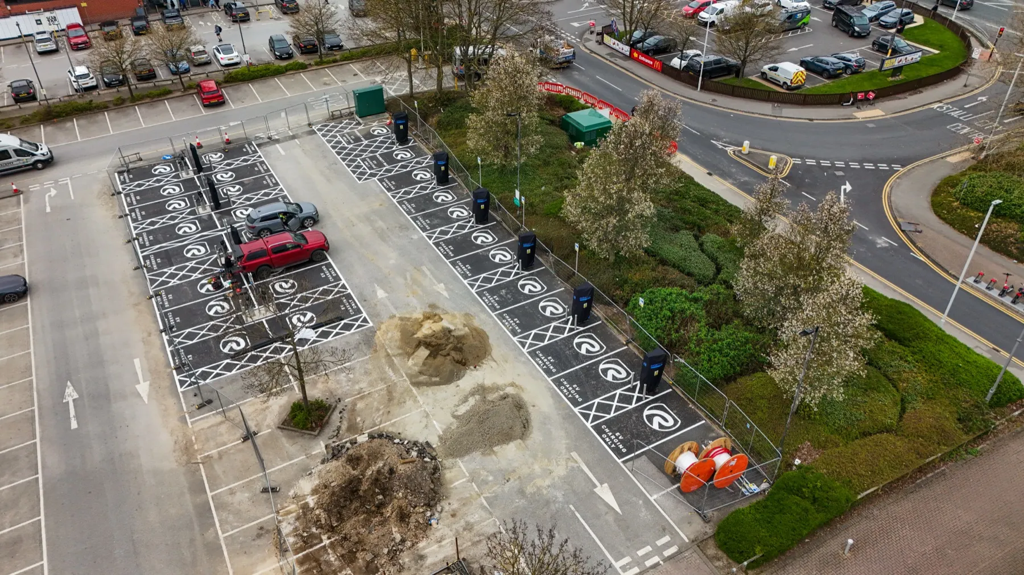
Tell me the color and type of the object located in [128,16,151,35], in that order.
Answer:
black car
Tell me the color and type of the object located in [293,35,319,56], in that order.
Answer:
black car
